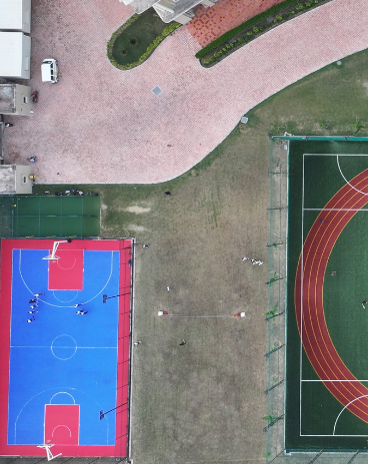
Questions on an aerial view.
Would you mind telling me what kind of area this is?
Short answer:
sports ground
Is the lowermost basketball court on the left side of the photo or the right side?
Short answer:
left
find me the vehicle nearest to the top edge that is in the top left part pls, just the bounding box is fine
[40,59,58,84]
